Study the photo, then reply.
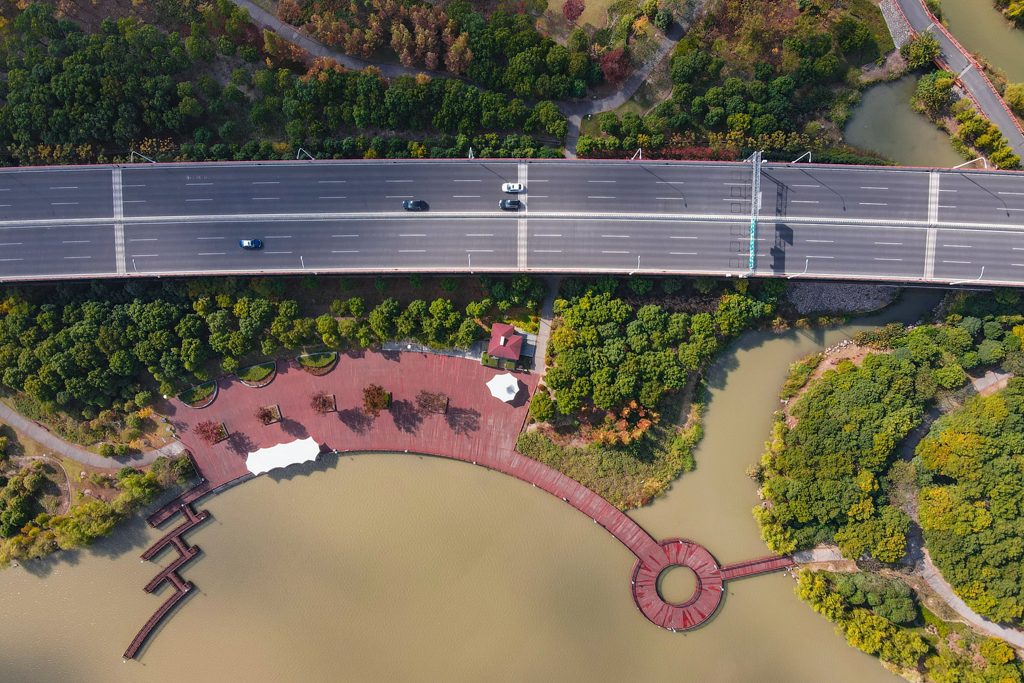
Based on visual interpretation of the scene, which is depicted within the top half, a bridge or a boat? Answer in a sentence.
The feature located within the top half is a bridge.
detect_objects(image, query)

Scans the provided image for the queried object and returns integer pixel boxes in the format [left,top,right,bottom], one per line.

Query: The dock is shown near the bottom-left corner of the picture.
[122,482,214,660]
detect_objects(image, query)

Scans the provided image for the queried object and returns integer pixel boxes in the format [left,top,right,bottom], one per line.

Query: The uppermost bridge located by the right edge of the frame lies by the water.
[918,19,989,91]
